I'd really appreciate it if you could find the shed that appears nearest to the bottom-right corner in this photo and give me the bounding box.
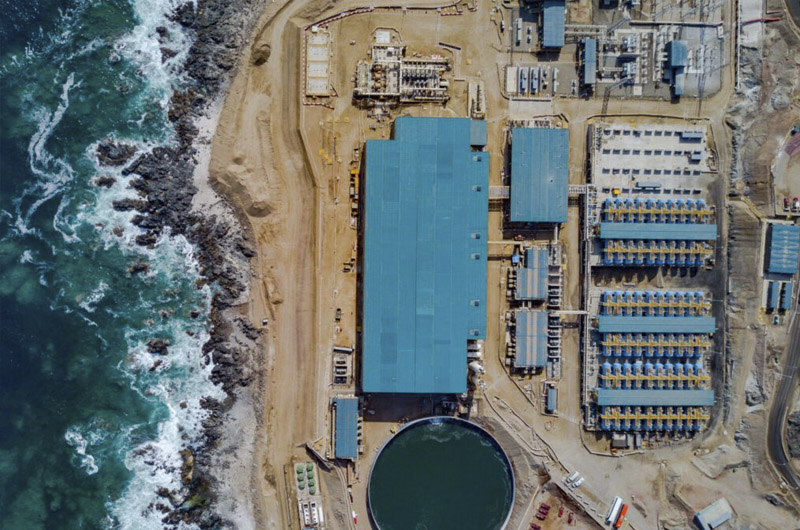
[691,496,733,530]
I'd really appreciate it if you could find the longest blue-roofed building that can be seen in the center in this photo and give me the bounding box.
[363,116,489,393]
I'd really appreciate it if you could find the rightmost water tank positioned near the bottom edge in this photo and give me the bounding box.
[368,405,515,530]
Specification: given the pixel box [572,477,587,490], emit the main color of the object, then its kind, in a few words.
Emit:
white vehicle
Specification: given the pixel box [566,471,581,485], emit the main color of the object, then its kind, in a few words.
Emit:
white vehicle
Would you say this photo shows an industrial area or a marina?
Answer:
industrial area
